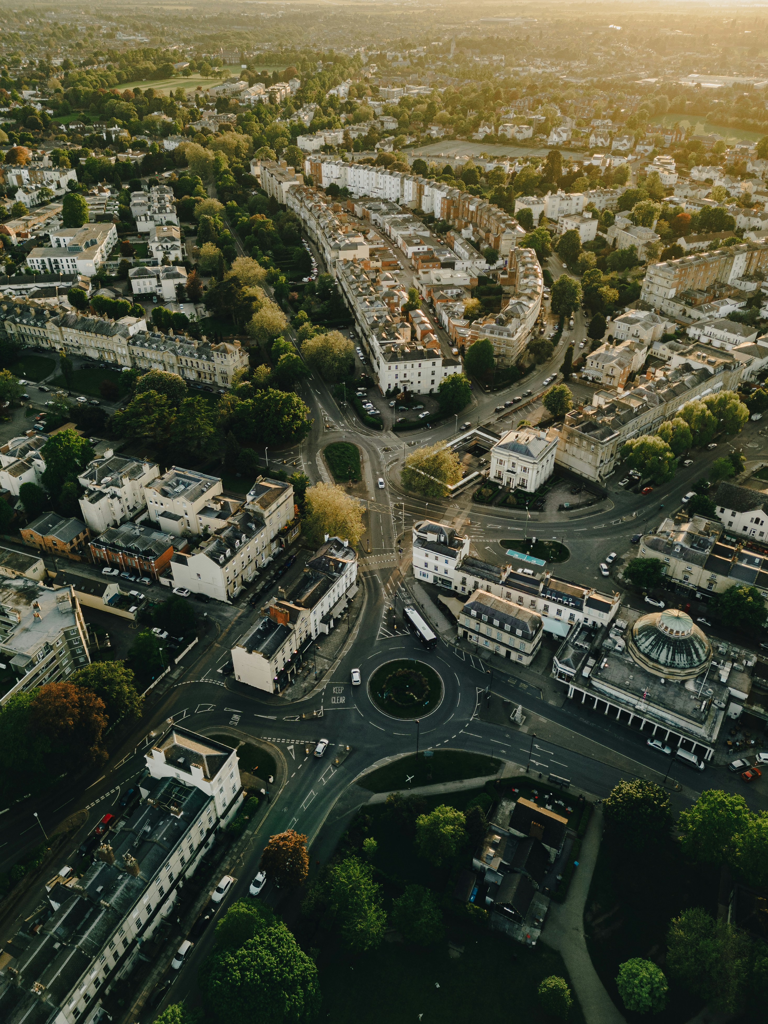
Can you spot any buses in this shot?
Yes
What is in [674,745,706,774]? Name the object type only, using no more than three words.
van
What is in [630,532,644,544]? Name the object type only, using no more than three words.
vehicle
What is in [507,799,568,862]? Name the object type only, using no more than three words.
building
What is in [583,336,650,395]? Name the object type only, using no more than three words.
house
